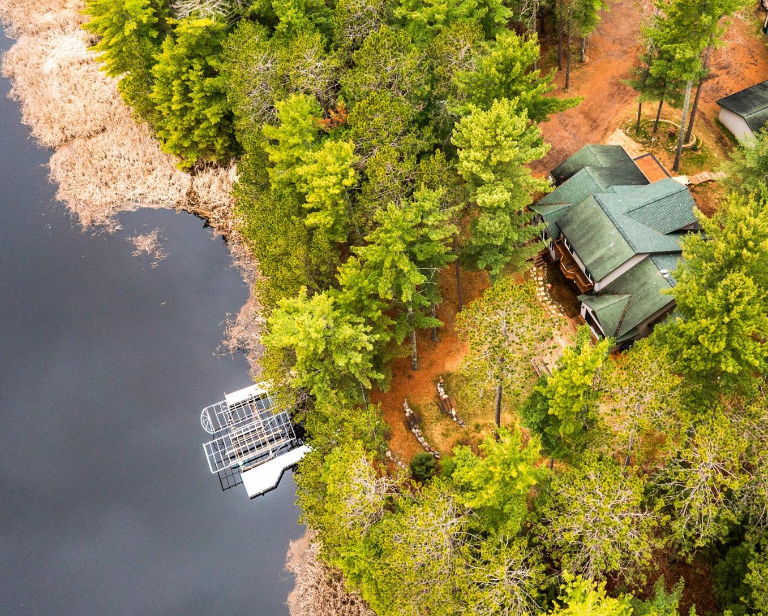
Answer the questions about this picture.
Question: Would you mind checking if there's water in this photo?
Yes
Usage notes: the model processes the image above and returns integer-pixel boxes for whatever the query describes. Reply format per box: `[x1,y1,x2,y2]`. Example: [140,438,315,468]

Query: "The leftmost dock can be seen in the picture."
[224,377,278,407]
